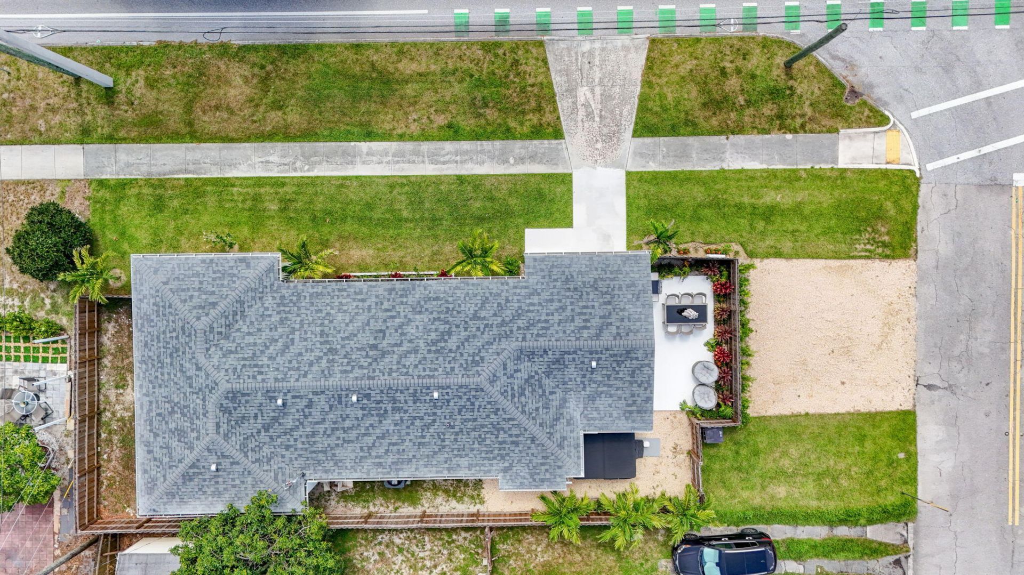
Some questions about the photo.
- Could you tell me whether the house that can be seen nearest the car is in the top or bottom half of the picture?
bottom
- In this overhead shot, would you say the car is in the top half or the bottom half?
bottom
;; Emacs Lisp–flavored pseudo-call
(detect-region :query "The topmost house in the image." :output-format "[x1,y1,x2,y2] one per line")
[130,250,656,517]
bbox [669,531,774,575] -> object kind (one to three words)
car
